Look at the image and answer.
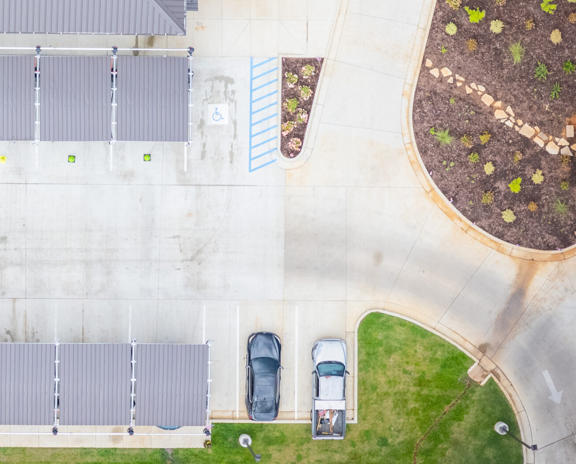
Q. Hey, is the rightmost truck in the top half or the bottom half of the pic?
bottom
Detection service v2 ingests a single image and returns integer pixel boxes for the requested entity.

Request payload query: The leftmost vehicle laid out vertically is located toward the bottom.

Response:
[243,332,285,421]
